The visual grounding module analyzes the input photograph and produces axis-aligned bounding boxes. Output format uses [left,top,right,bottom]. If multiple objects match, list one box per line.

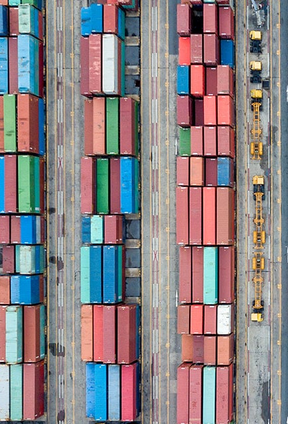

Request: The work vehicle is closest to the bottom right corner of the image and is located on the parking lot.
[251,303,264,323]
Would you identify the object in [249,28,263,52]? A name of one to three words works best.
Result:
work vehicle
